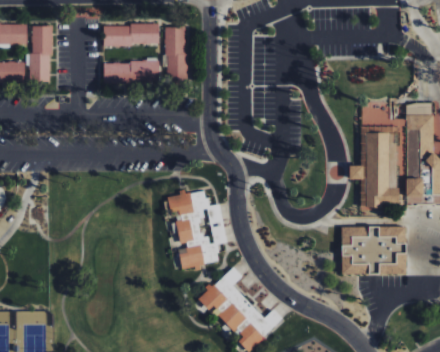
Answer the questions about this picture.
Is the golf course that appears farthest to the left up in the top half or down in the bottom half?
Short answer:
bottom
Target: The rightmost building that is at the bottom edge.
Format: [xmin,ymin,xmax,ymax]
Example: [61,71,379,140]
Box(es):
[198,266,284,352]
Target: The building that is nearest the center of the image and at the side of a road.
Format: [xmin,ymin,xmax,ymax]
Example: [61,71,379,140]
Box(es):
[168,190,226,271]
